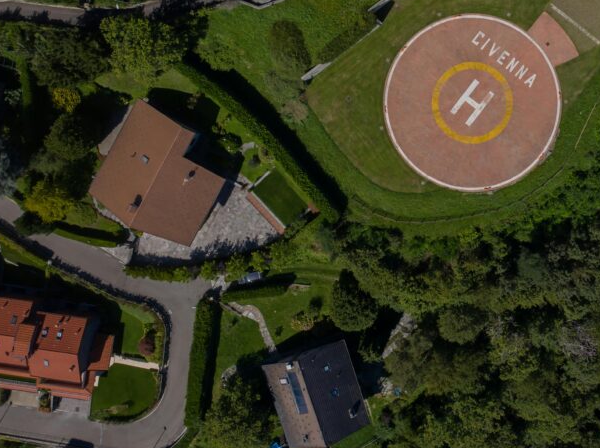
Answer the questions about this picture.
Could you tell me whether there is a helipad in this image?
Yes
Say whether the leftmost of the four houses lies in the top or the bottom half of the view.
bottom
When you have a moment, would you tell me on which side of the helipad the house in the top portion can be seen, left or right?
on the left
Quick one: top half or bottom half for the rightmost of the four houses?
bottom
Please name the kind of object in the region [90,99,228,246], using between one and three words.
house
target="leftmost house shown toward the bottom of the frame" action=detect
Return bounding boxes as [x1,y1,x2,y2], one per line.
[0,288,54,393]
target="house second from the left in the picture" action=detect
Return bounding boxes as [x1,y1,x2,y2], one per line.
[30,304,121,399]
